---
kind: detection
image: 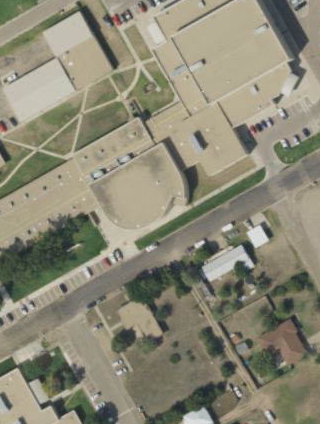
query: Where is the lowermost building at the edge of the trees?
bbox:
[178,404,216,424]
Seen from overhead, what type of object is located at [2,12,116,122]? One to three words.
building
